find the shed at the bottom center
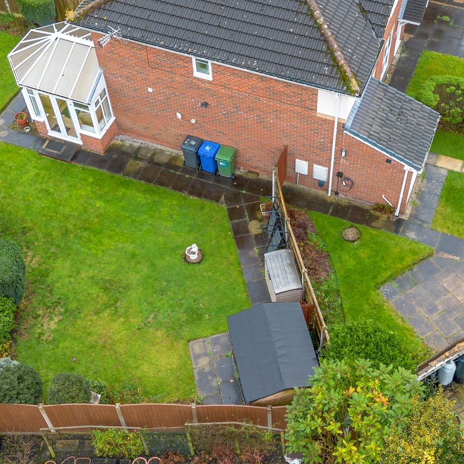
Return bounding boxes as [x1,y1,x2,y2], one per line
[227,302,319,406]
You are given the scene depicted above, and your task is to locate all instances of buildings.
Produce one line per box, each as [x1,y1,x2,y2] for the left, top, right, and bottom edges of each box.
[66,0,446,218]
[227,302,319,406]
